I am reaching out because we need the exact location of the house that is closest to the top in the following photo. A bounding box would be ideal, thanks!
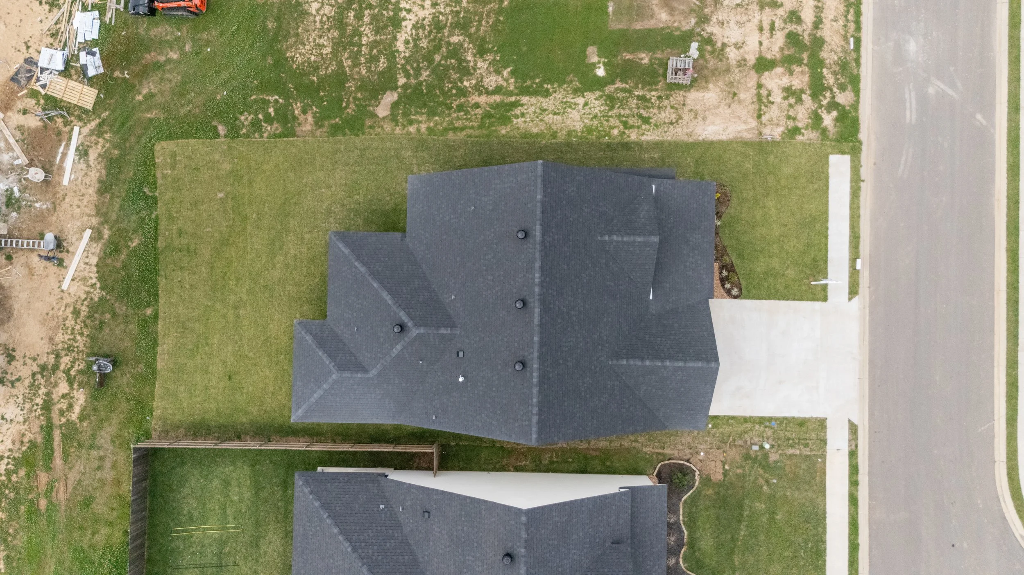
[292,161,720,447]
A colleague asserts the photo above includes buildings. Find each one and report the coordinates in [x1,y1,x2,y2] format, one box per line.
[292,161,720,447]
[292,464,667,575]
